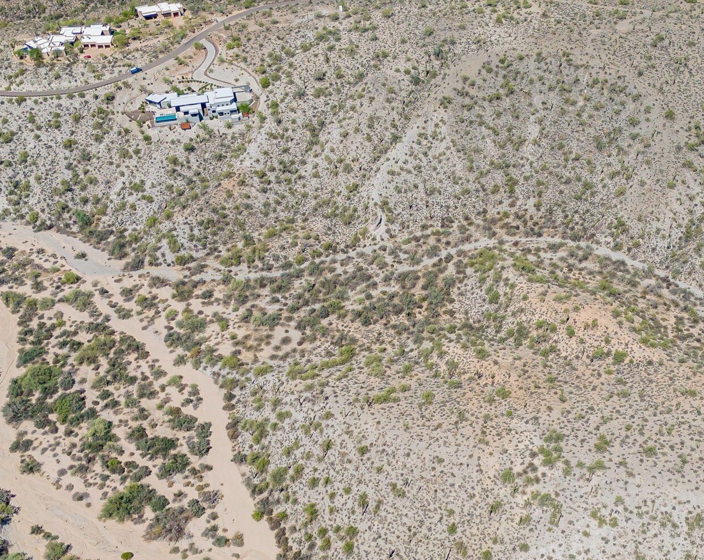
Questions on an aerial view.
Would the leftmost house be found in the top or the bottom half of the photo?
top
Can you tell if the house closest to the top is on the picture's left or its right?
left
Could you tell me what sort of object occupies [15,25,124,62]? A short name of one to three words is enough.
house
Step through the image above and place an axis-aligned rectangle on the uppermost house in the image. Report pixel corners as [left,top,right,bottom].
[136,2,186,26]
